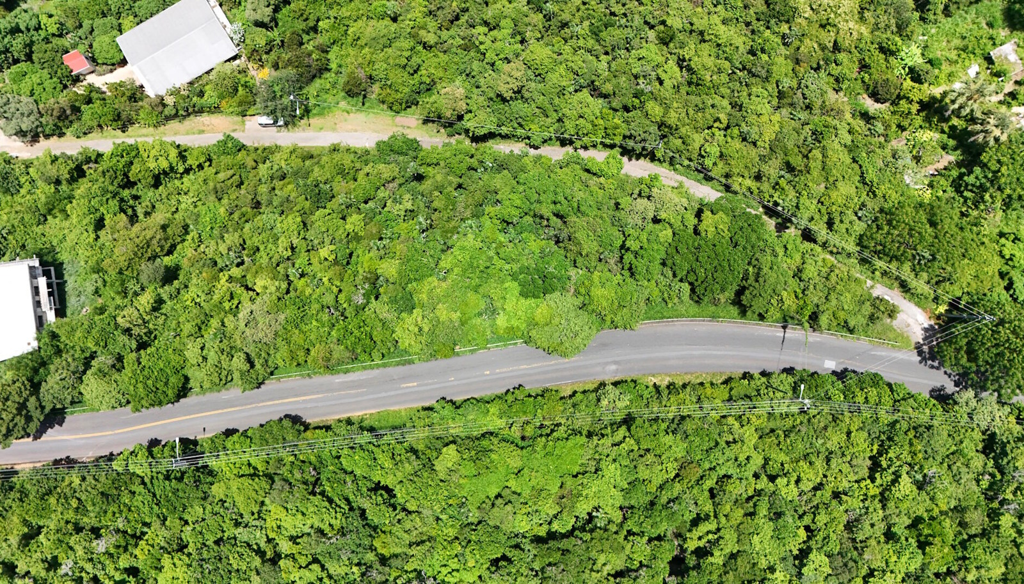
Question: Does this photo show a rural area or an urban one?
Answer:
rural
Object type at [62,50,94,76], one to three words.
shed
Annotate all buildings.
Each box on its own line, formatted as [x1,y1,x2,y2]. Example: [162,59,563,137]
[116,0,243,99]
[0,254,73,363]
[62,50,94,76]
